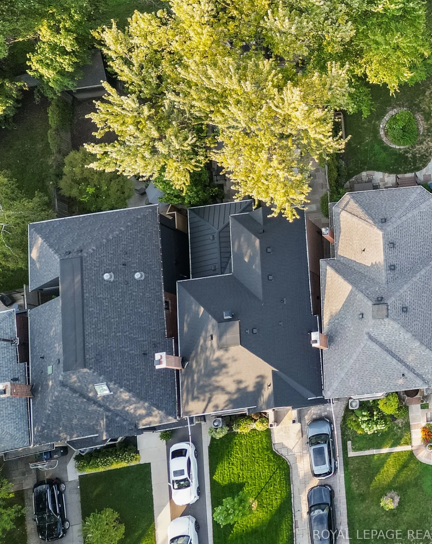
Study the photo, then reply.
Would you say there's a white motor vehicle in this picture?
Yes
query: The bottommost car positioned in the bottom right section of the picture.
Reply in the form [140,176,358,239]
[302,482,339,544]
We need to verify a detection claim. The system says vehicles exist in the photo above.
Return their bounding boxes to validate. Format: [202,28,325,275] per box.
[164,514,198,544]
[302,482,339,544]
[303,417,338,481]
[166,440,201,507]
[27,474,69,544]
